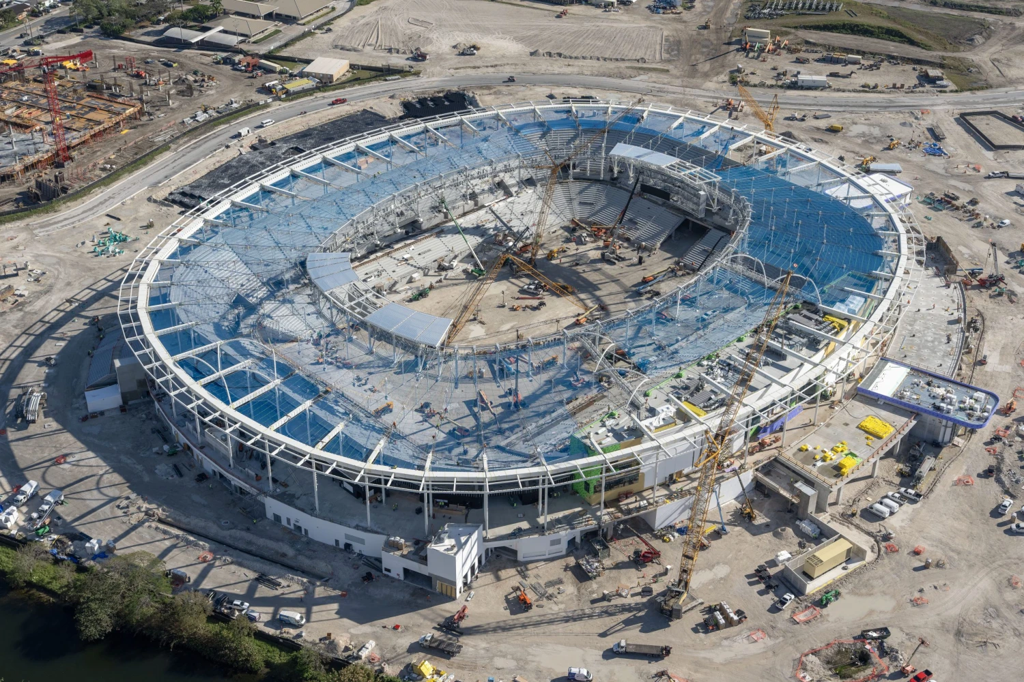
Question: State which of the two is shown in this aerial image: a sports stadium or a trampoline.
sports stadium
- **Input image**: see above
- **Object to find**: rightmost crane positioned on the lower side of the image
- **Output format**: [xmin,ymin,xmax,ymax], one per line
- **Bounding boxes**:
[648,272,793,623]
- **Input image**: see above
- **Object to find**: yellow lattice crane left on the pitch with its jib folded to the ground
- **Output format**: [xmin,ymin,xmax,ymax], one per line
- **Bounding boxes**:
[418,226,590,367]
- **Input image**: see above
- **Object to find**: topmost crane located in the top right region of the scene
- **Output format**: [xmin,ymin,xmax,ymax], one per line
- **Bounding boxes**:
[737,86,789,164]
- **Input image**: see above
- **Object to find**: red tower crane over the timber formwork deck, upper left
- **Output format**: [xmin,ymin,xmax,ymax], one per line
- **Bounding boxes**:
[0,50,94,166]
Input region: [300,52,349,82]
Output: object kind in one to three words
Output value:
building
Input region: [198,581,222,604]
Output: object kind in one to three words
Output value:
truck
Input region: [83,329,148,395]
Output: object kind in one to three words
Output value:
shed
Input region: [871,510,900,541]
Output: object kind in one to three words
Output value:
work vehicle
